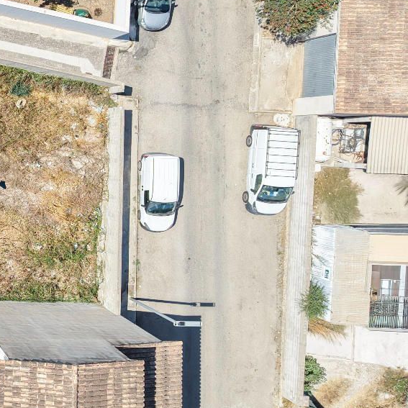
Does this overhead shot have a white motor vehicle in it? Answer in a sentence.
Yes, a white motor vehicle appears in the view.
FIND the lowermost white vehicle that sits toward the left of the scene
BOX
[140,153,184,232]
